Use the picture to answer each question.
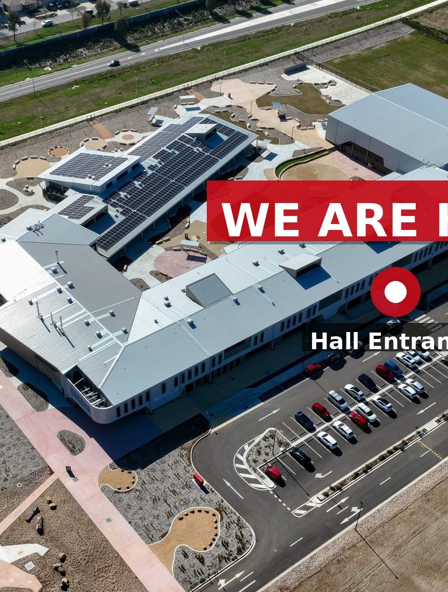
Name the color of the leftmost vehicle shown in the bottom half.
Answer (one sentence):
From above, the leftmost vehicle shown in the bottom half appears red.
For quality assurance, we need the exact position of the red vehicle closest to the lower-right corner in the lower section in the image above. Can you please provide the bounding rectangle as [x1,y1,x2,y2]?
[350,413,367,429]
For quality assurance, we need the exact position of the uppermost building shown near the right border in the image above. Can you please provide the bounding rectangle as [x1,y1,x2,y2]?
[329,82,448,173]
